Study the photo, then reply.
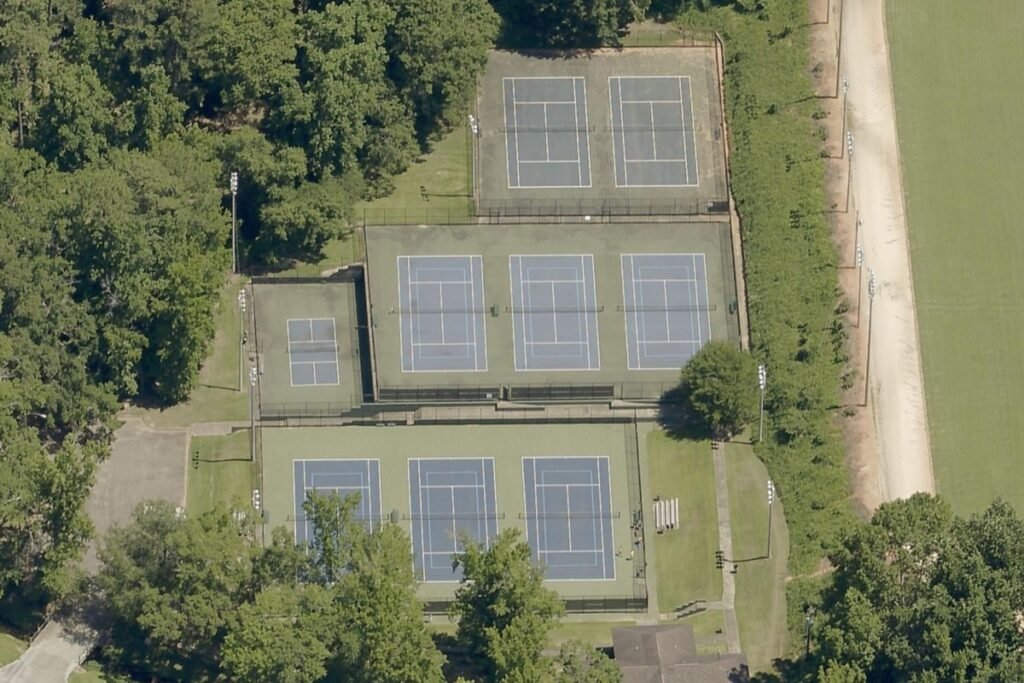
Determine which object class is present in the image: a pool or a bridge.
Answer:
bridge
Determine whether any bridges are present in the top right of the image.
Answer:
No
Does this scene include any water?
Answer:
No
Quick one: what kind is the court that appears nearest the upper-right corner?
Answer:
tennis court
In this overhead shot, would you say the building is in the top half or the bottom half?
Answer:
bottom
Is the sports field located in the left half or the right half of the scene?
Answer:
right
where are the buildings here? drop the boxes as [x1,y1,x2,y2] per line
[613,625,746,683]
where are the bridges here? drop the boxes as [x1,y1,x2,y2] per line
[24,611,104,671]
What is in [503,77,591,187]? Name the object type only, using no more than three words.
tennis court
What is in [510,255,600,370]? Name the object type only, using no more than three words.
tennis court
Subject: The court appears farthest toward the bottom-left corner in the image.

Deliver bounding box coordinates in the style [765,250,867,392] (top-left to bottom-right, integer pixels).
[294,459,381,581]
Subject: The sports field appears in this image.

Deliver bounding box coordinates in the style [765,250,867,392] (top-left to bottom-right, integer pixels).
[885,0,1024,599]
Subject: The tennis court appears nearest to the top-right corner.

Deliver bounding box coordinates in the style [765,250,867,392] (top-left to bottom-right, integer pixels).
[609,77,699,187]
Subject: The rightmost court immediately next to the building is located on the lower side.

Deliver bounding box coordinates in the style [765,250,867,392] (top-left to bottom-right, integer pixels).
[522,457,616,579]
